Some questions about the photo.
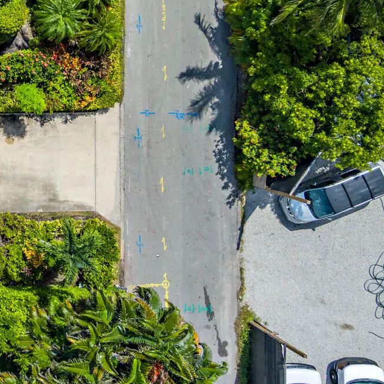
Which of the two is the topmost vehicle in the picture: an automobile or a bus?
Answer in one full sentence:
From above, the topmost vehicle can be identified as an automobile.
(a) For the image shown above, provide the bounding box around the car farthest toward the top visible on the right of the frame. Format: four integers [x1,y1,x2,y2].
[275,171,382,231]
